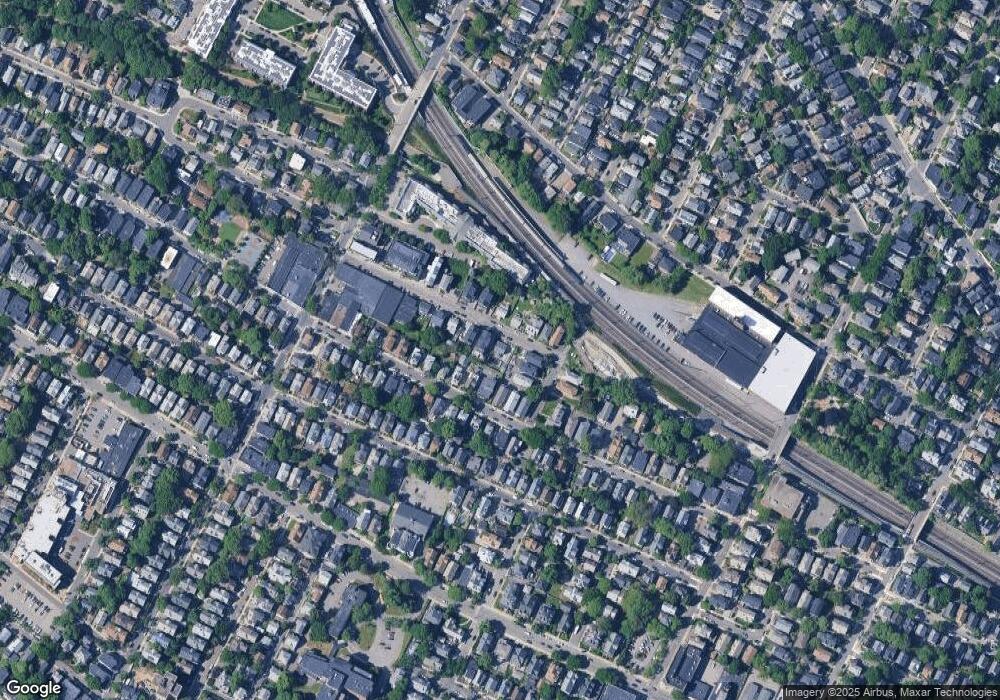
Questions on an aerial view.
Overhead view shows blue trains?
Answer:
No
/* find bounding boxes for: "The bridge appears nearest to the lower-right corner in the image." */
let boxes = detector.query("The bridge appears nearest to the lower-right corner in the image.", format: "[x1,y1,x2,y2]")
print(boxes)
[904,479,948,548]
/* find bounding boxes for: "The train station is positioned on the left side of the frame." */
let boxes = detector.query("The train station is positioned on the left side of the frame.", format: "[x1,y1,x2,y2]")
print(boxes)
[354,0,411,88]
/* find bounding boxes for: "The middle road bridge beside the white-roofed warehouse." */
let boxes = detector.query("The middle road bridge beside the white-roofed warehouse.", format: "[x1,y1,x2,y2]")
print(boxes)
[761,404,803,471]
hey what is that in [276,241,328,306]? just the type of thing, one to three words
building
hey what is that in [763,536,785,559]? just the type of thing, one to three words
house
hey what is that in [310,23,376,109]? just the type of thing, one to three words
building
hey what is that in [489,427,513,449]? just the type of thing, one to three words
house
